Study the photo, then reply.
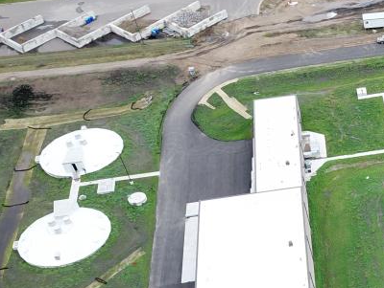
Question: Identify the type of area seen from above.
industrial area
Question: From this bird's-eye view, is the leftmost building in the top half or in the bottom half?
bottom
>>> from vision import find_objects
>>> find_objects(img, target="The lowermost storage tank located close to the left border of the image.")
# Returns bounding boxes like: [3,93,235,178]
[10,195,112,271]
